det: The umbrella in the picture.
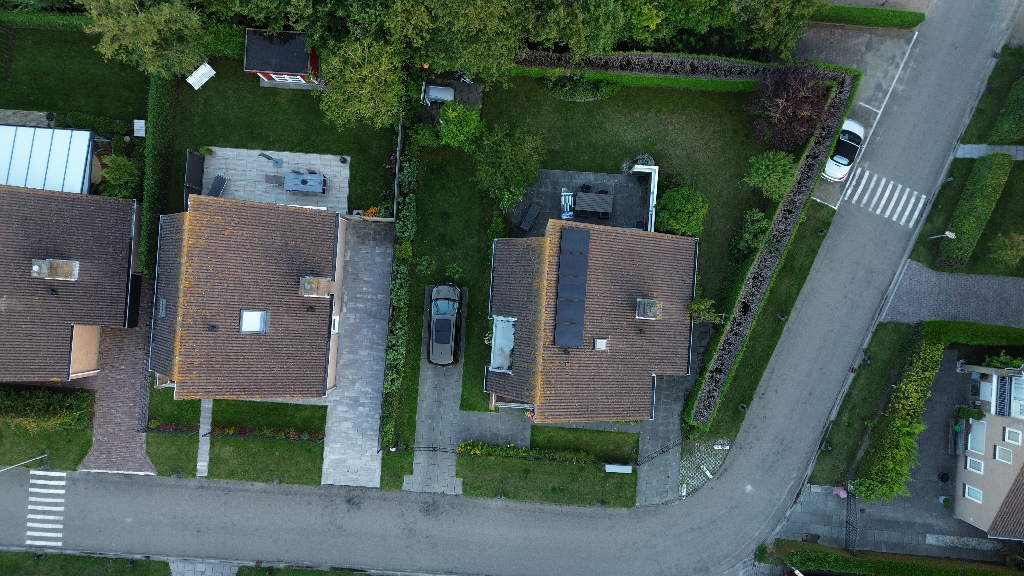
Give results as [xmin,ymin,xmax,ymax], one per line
[260,153,282,167]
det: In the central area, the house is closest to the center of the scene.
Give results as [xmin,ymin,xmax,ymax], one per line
[482,219,701,423]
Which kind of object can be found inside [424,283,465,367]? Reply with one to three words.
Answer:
car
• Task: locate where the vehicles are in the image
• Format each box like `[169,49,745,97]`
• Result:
[424,283,465,367]
[820,118,867,186]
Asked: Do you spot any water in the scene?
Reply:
No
